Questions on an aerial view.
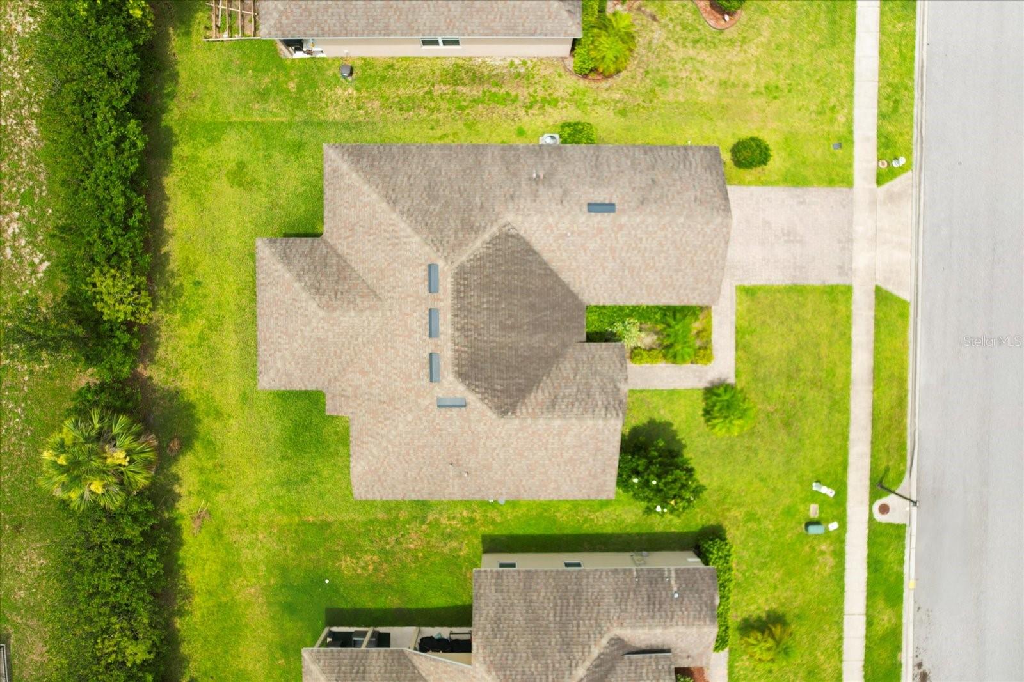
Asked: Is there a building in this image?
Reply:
Yes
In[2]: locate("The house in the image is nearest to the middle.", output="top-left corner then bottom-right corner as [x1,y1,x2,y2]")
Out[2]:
[257,145,732,500]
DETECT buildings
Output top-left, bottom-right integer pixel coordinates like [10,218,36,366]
[257,145,732,500]
[259,0,581,58]
[302,551,722,682]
